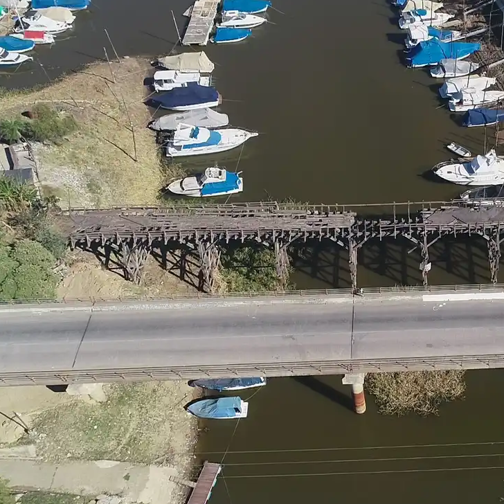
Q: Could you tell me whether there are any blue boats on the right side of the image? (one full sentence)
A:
Yes, the scene does show a blue boat on the right side of the image.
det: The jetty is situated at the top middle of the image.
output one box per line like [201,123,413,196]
[186,0,218,47]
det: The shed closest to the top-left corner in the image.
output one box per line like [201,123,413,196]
[6,142,38,176]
